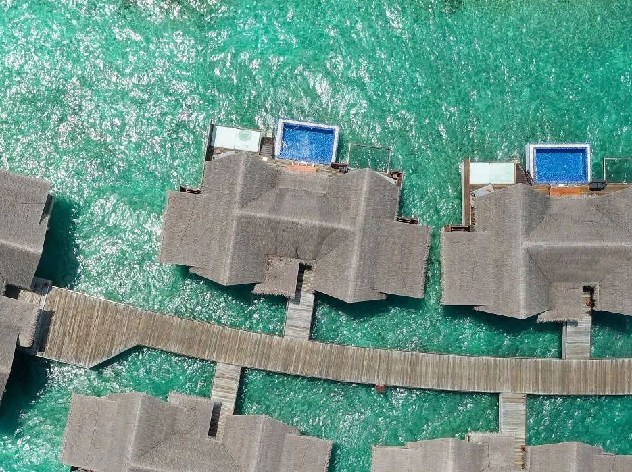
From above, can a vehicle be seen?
No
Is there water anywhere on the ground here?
Yes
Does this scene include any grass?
No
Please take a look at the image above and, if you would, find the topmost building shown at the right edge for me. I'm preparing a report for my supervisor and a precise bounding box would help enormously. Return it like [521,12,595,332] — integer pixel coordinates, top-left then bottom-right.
[436,155,632,324]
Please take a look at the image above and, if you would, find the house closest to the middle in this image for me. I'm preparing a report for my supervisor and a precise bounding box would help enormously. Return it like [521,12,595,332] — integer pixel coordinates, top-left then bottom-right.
[154,120,430,302]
